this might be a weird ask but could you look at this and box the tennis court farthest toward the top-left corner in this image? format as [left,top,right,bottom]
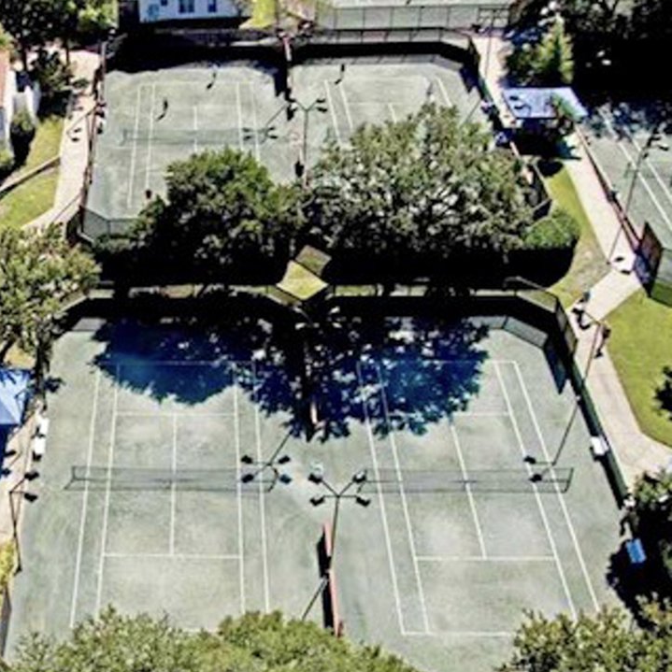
[82,56,302,244]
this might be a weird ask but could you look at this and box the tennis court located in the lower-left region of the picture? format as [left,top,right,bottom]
[8,316,332,672]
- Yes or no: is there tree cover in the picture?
Yes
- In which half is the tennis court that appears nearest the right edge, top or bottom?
top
